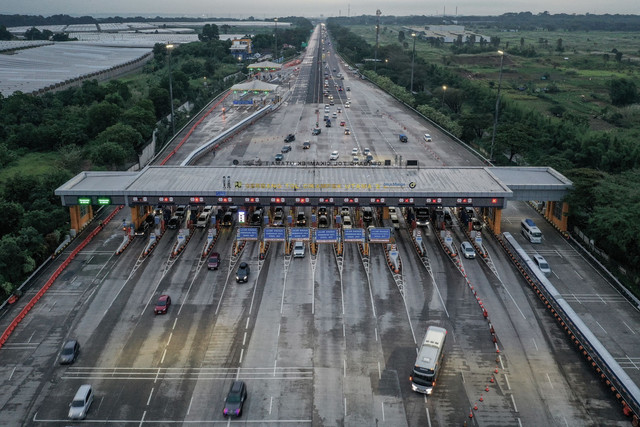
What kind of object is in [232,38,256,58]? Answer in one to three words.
building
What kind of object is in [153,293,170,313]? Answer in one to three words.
car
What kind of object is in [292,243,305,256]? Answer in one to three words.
vehicle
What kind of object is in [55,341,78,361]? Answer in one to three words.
car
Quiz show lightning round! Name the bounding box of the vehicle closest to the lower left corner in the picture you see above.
[63,389,92,419]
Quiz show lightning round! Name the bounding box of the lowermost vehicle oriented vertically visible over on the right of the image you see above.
[408,328,446,395]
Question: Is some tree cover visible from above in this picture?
Yes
